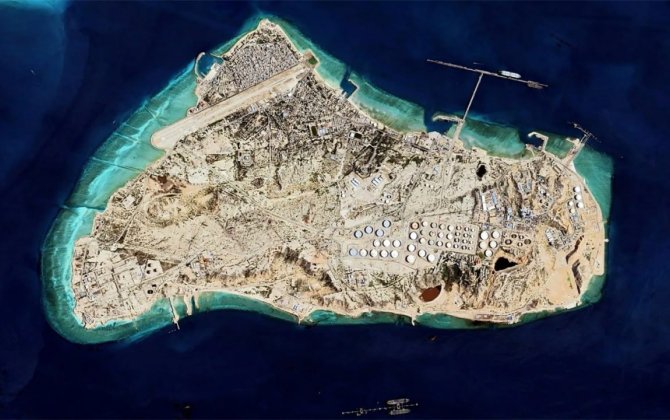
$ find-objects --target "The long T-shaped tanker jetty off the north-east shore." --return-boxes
[427,59,548,150]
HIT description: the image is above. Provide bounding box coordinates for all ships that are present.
[499,70,522,79]
[390,410,411,415]
[387,398,410,404]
